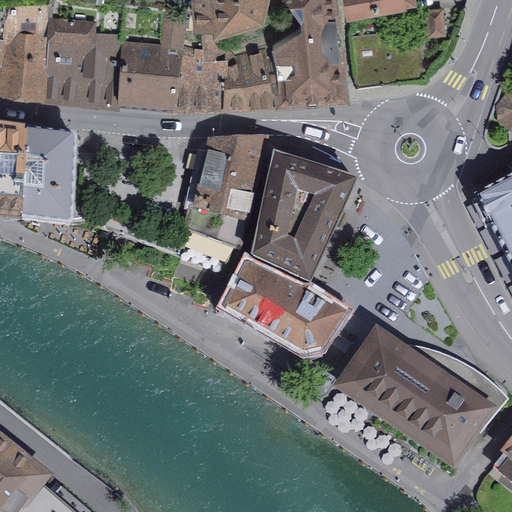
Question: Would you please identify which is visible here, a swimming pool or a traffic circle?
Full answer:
The one in the frame is a traffic circle.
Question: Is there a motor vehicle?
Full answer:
Yes, the photo shows a motor vehicle.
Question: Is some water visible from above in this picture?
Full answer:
Yes, some water is visible.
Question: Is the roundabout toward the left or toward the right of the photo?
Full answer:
The roundabout is on the right side of the image.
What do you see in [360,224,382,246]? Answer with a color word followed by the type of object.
white car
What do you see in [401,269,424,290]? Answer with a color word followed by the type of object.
white car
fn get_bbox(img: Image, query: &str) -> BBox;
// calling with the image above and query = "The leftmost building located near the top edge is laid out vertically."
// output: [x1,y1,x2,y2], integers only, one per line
[0,4,49,104]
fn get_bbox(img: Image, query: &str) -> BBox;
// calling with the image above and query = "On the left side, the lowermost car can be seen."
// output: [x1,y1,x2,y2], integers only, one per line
[146,280,170,298]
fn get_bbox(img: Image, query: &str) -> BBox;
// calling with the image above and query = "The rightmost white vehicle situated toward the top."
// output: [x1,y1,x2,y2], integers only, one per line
[454,134,466,156]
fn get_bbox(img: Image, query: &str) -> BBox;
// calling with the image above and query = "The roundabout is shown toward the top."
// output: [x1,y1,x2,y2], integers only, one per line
[349,92,464,204]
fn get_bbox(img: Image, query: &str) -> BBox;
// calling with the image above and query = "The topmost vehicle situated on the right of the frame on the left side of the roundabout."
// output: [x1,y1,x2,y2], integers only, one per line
[302,124,330,140]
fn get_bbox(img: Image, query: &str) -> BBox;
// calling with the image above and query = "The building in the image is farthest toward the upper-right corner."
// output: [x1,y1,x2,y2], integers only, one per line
[427,8,446,39]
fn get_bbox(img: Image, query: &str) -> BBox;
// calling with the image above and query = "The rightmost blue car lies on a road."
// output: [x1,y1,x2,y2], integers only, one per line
[470,79,484,102]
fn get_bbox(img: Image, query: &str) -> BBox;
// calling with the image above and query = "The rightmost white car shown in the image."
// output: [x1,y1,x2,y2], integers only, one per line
[495,294,509,315]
